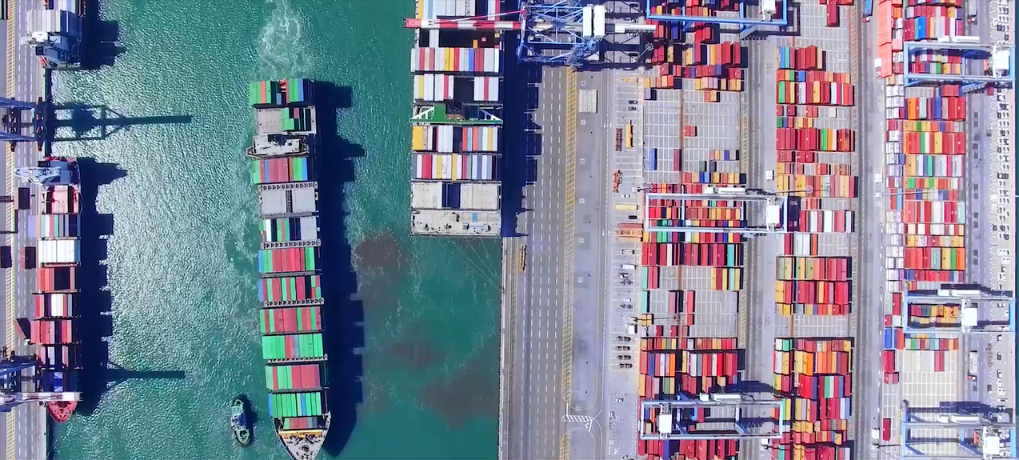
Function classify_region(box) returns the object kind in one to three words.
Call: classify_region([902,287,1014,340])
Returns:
container crane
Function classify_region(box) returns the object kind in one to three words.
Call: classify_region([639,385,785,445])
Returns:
container crane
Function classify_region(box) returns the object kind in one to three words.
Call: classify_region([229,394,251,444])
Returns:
boat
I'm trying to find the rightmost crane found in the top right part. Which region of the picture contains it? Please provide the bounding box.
[903,37,1014,96]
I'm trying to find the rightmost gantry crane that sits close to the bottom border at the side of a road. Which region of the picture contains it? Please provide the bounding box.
[900,406,1014,460]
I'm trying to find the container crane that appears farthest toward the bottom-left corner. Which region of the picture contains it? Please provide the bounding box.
[0,352,81,406]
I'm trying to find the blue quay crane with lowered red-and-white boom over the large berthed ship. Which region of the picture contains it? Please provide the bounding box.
[406,2,658,68]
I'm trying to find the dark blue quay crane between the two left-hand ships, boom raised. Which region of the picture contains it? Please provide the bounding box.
[0,96,41,144]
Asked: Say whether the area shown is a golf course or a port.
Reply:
port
